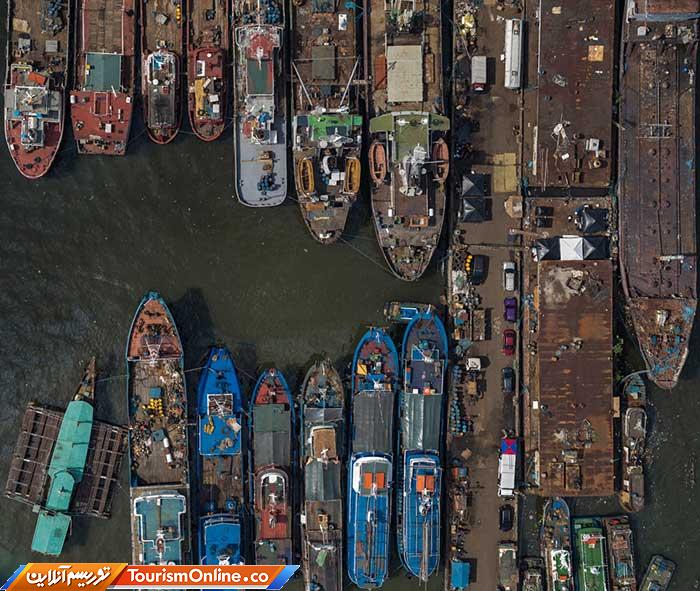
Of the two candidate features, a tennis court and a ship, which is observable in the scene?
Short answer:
ship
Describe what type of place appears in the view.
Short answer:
parking lot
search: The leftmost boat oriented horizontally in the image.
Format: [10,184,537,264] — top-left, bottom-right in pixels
[386,302,432,322]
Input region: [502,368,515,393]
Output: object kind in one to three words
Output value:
vehicle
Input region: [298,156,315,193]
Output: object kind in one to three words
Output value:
boat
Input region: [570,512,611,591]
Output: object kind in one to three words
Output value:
ship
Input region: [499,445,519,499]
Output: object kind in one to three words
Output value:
vehicle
